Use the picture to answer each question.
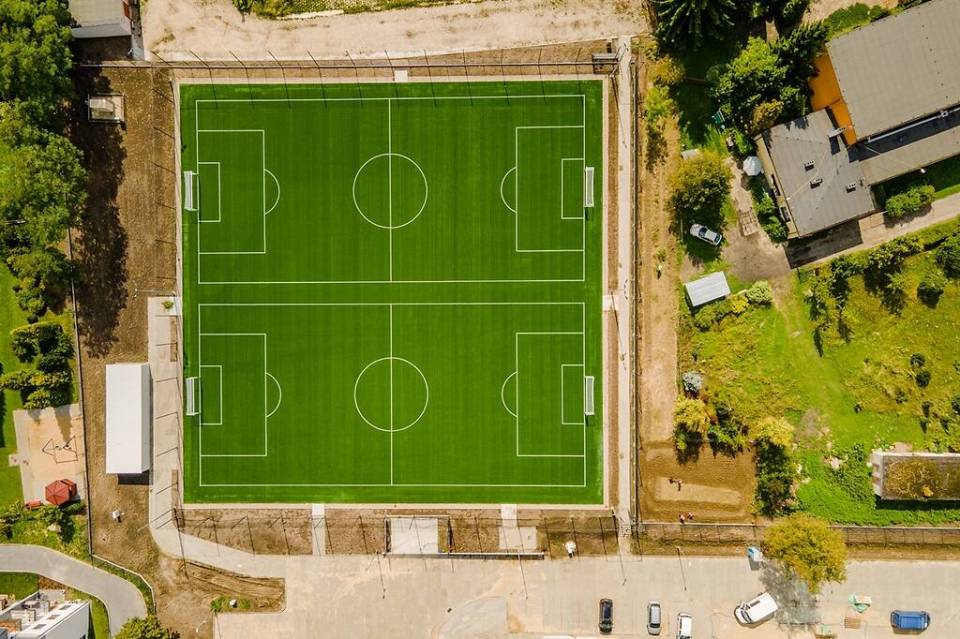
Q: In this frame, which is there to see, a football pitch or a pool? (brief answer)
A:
football pitch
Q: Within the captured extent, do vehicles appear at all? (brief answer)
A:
Yes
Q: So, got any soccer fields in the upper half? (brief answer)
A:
Yes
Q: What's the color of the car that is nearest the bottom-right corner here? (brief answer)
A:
blue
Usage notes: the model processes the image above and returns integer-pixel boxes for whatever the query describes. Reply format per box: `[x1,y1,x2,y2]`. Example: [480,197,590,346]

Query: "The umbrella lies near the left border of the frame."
[47,479,73,504]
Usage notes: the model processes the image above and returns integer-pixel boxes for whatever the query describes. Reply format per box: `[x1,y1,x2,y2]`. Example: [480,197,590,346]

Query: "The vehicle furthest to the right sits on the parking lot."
[890,610,927,630]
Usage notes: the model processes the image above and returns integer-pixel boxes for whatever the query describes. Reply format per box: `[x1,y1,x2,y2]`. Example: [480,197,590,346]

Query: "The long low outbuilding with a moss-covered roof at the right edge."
[870,452,960,499]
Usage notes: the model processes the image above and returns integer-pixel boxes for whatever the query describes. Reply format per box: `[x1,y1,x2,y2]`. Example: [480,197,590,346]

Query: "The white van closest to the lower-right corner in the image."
[737,593,776,624]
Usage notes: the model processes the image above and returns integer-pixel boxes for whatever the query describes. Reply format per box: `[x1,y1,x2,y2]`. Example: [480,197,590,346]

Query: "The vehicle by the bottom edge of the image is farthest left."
[598,597,614,632]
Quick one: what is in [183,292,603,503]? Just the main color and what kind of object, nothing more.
green soccer field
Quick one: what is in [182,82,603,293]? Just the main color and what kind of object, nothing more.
green soccer field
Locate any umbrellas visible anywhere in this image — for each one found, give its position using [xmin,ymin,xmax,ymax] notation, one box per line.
[743,157,760,174]
[47,479,73,504]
